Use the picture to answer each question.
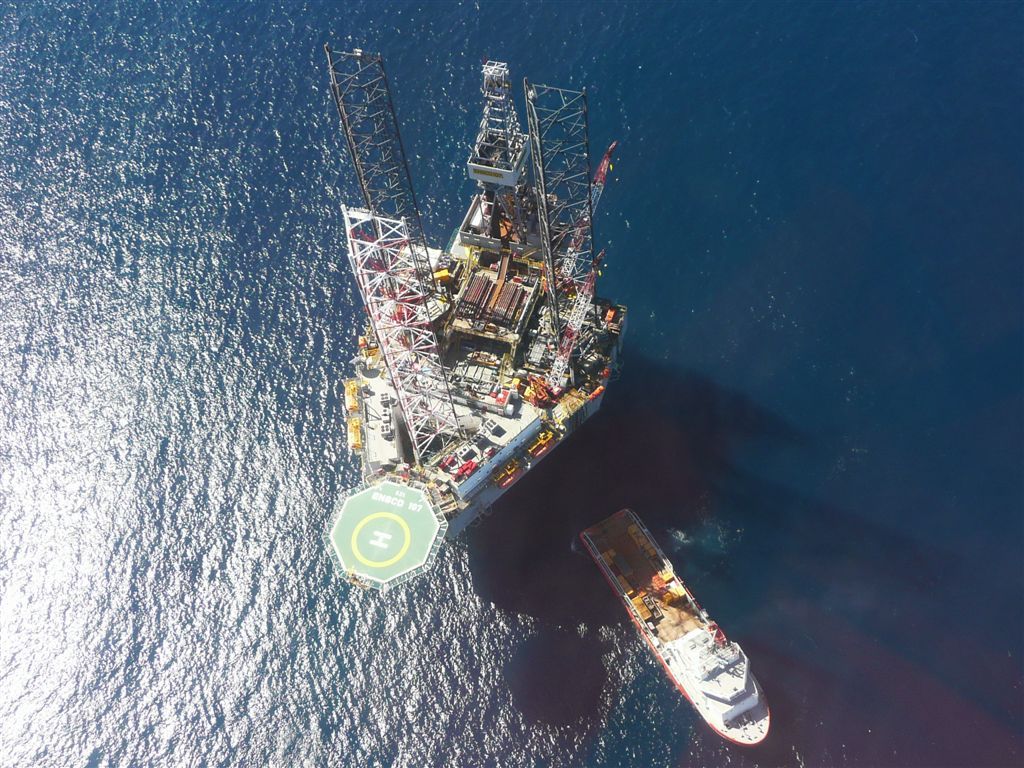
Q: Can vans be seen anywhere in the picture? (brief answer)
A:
No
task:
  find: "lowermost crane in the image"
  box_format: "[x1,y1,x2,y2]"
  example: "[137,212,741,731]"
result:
[543,247,606,410]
